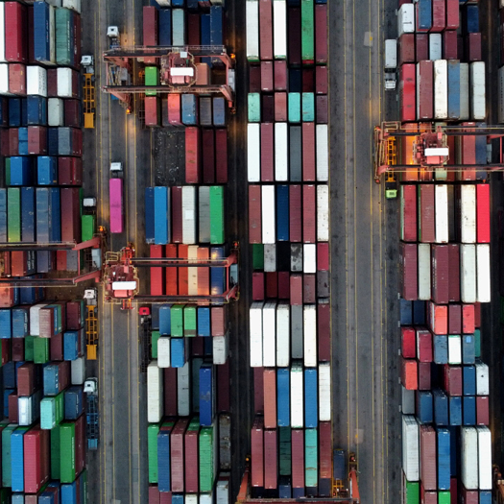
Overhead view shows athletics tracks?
No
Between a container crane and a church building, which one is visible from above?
container crane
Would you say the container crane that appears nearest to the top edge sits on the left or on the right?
left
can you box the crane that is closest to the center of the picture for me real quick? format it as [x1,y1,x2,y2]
[96,238,242,307]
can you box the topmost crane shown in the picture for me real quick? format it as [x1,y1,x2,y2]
[93,40,241,117]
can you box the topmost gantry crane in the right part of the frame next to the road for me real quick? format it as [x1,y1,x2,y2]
[374,118,504,184]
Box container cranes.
[0,224,108,289]
[93,40,241,117]
[224,448,364,504]
[374,118,504,184]
[96,238,242,307]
